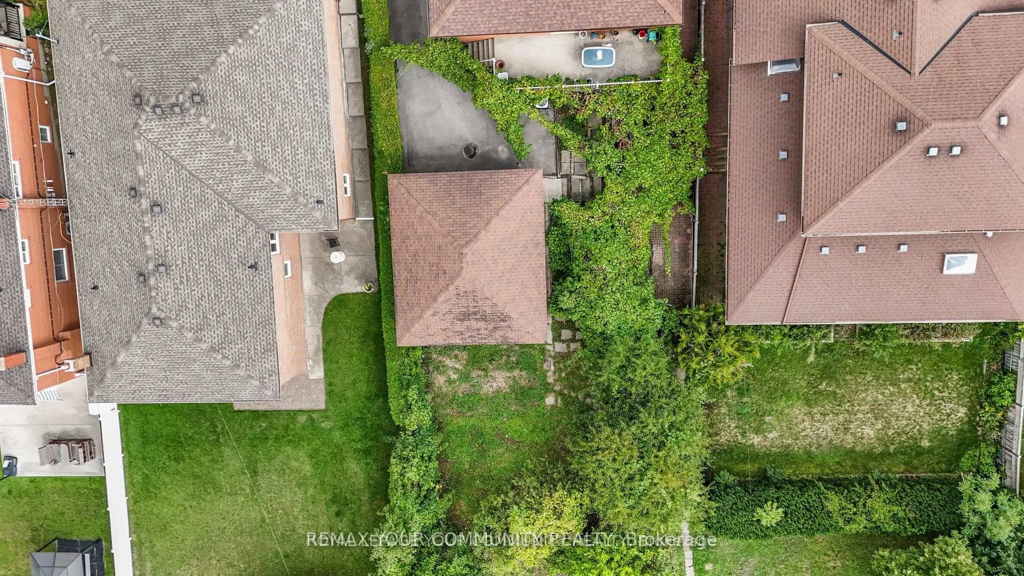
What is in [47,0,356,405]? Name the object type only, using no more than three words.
house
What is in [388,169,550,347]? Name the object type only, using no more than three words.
building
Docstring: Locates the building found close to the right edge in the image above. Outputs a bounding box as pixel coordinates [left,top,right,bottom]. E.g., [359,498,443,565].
[721,0,1024,327]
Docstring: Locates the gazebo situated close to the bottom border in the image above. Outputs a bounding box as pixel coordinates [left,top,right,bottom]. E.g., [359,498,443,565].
[30,534,108,576]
